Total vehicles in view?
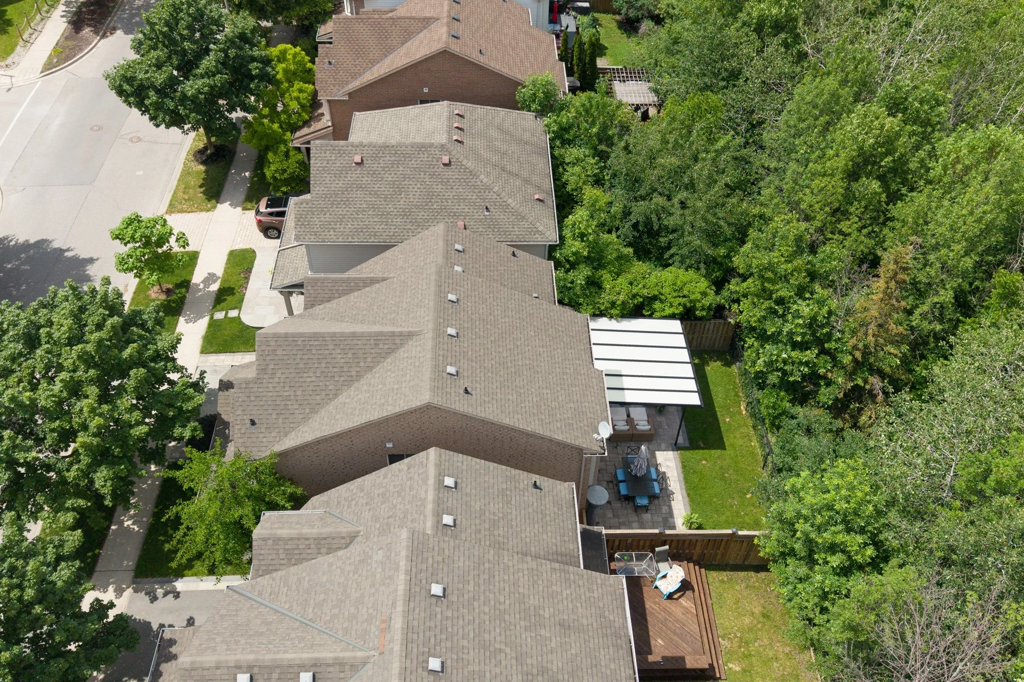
one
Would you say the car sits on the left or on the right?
left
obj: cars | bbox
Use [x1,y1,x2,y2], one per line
[245,189,293,235]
